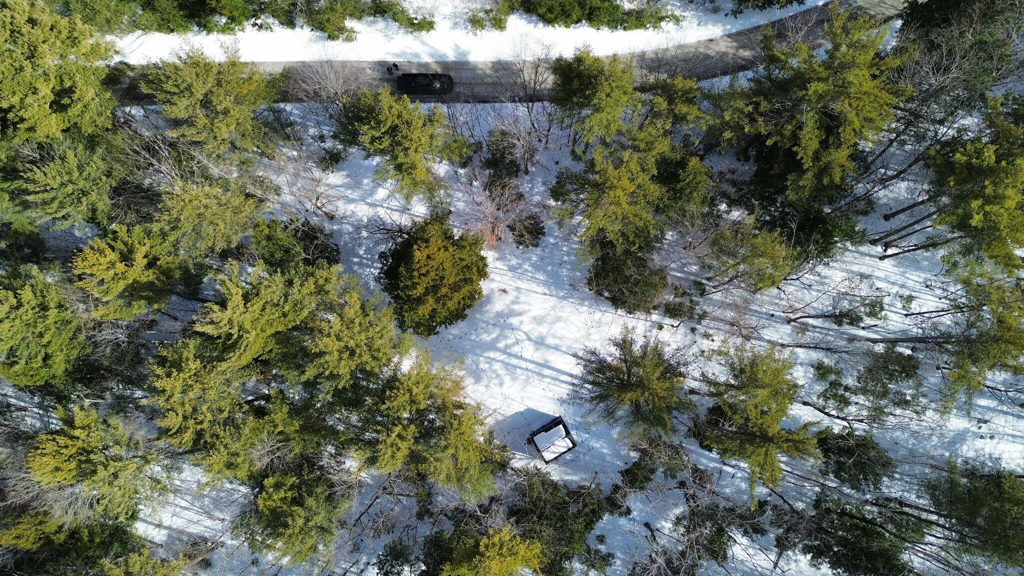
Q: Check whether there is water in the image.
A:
No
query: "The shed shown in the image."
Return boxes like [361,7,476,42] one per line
[529,417,580,467]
